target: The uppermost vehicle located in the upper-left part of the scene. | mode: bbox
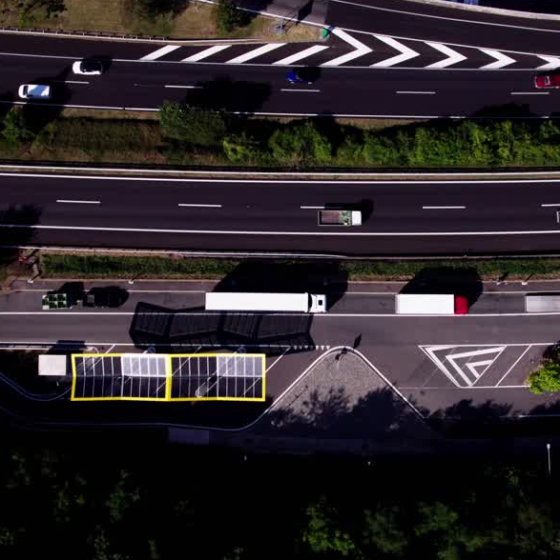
[73,58,104,75]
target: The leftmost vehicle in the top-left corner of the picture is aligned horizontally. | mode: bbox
[18,82,52,100]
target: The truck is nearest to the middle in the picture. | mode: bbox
[207,292,323,313]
